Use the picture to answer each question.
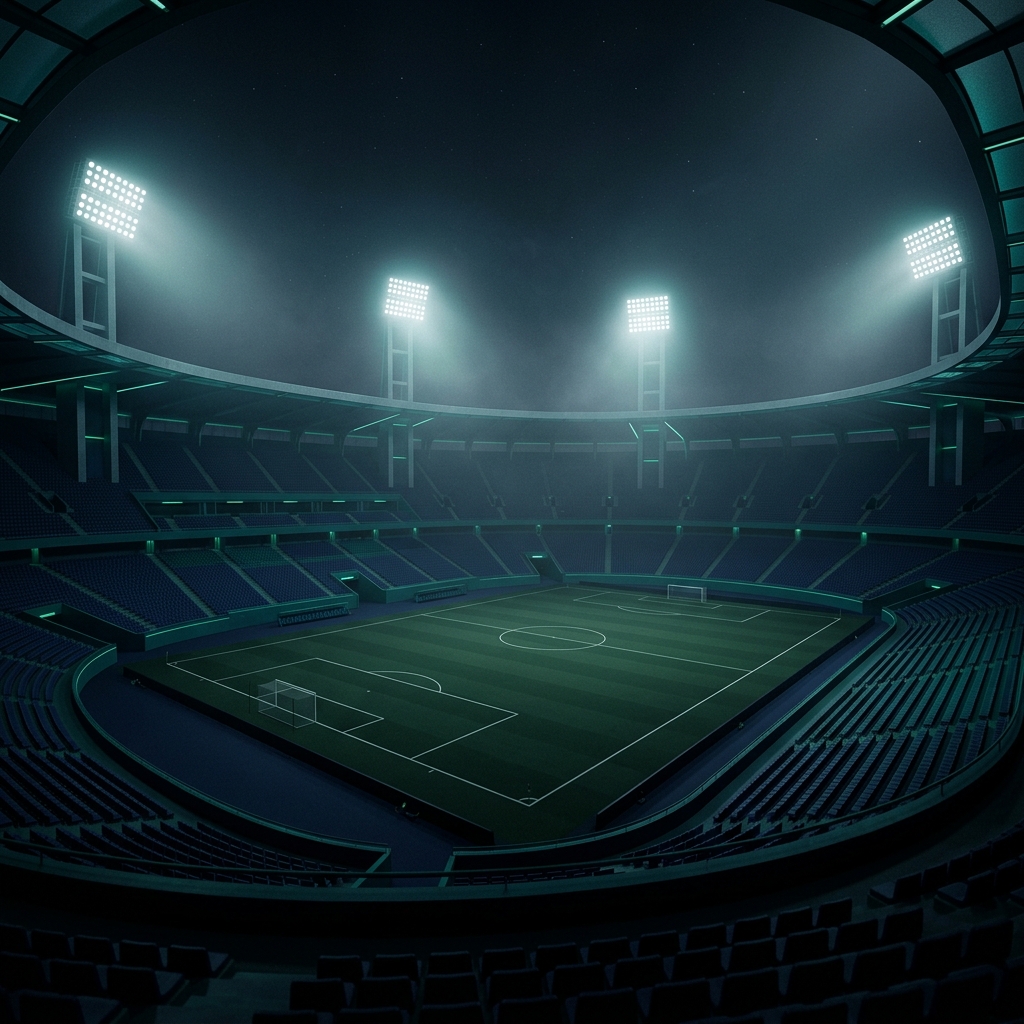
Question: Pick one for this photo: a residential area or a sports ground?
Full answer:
The picture captures a sports ground.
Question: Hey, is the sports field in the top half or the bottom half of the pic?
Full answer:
The sports field is in the bottom half of the image.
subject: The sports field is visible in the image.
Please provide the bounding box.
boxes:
[111,584,872,844]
